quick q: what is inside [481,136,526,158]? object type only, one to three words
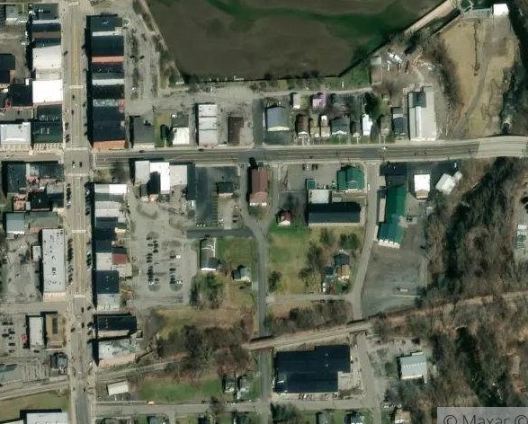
bridge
